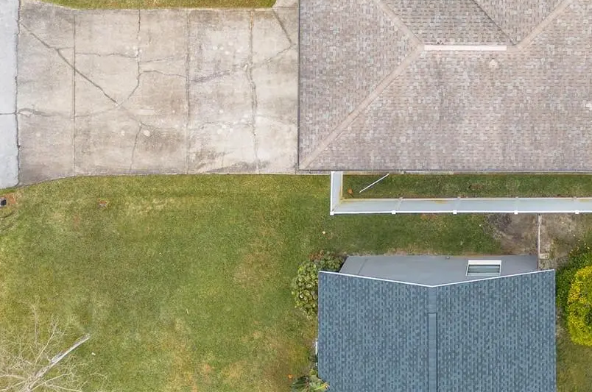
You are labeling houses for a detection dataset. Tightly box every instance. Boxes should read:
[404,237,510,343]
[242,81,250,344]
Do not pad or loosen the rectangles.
[298,0,592,176]
[313,256,554,392]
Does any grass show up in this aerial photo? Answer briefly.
Yes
